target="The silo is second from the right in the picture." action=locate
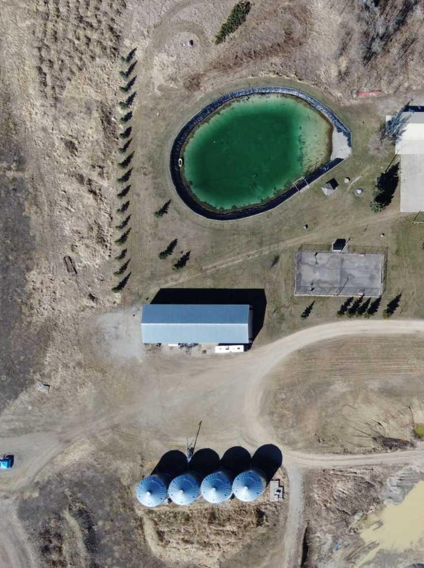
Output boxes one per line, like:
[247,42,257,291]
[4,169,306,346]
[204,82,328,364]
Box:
[201,465,237,502]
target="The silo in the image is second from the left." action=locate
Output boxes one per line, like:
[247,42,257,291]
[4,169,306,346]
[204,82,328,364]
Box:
[168,468,205,505]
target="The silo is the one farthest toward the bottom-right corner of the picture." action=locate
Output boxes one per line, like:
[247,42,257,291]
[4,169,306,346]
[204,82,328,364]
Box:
[233,464,270,501]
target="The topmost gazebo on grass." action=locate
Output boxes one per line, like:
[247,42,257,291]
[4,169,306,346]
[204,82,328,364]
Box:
[322,179,338,196]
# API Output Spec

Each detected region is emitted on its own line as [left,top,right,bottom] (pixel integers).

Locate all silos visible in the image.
[168,468,205,505]
[233,464,270,501]
[201,465,237,502]
[136,470,173,507]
